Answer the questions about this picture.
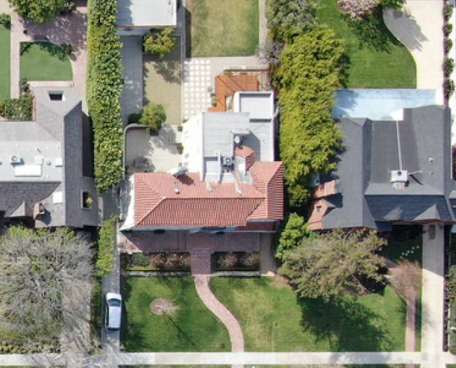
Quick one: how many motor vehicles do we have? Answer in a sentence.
The picture shows just 1 motor vehicle.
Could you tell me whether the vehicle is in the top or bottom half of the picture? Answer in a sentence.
The vehicle sits in the bottom half of the picture.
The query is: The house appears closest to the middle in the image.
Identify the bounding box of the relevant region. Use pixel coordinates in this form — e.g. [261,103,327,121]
[124,92,283,231]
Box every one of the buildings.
[296,106,456,232]
[0,86,101,226]
[111,0,176,36]
[124,92,283,231]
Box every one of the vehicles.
[102,293,123,331]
